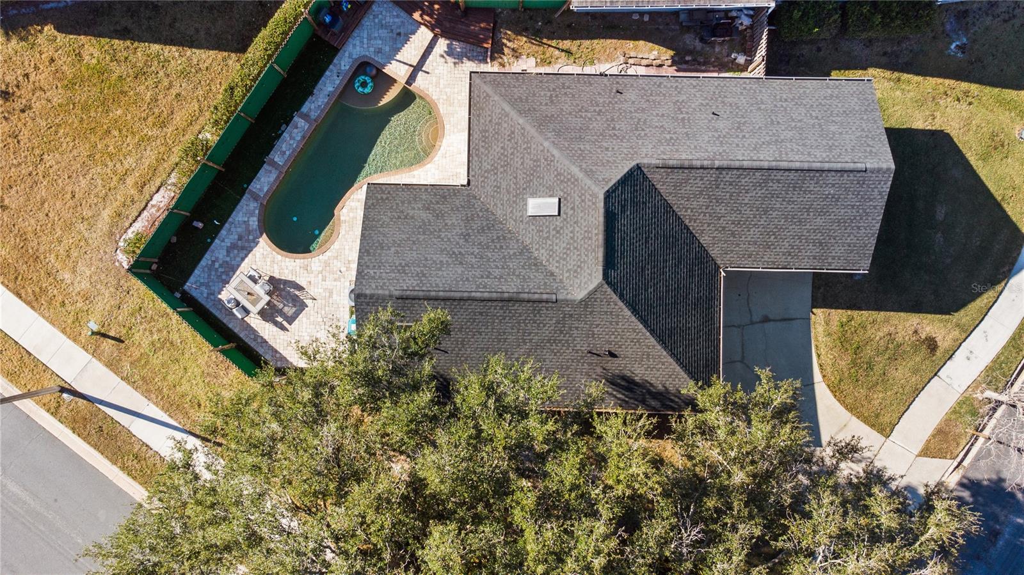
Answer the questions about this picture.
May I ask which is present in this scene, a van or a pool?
pool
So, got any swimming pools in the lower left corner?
No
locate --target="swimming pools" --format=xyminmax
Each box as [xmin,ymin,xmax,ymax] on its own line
[258,55,445,259]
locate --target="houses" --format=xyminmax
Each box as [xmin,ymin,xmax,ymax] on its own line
[571,0,790,19]
[354,71,896,411]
